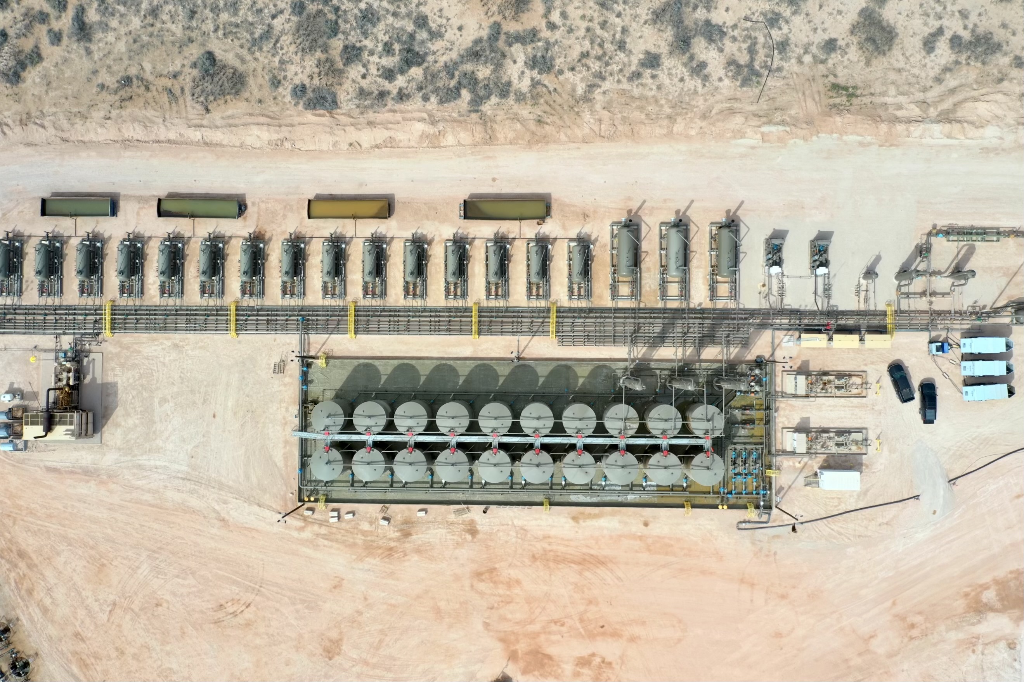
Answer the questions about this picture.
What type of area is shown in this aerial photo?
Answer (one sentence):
It's an industrial area.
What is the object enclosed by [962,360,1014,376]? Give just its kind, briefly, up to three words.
trailer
